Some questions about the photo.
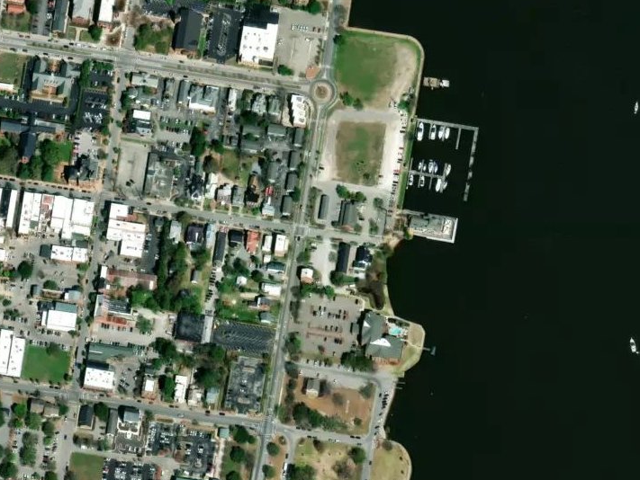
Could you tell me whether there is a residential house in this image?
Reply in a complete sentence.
Yes, the photo shows a residential house.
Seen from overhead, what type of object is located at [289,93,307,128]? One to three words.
building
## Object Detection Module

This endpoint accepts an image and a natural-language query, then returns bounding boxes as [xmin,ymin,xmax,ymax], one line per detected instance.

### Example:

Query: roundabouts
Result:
[307,77,335,104]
